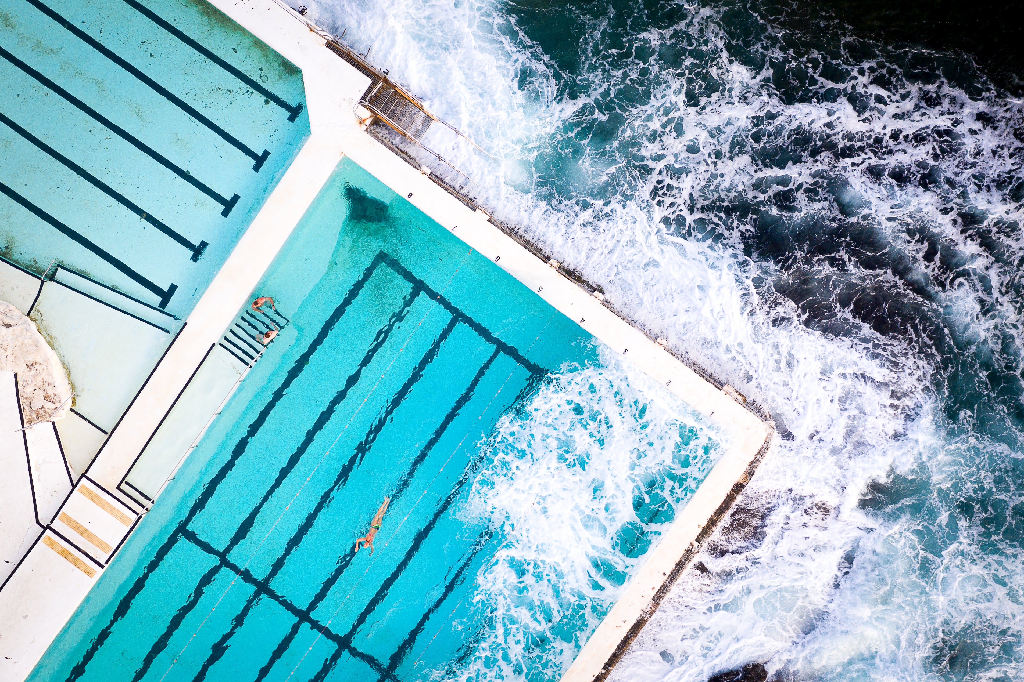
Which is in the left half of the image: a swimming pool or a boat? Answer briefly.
swimming pool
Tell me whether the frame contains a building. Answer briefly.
No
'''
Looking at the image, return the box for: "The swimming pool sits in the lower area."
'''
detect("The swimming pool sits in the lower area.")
[27,159,732,682]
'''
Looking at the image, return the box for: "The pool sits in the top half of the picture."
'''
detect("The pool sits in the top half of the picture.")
[0,0,311,433]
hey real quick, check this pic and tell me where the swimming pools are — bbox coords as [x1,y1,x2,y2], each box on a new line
[0,0,311,433]
[27,159,732,682]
